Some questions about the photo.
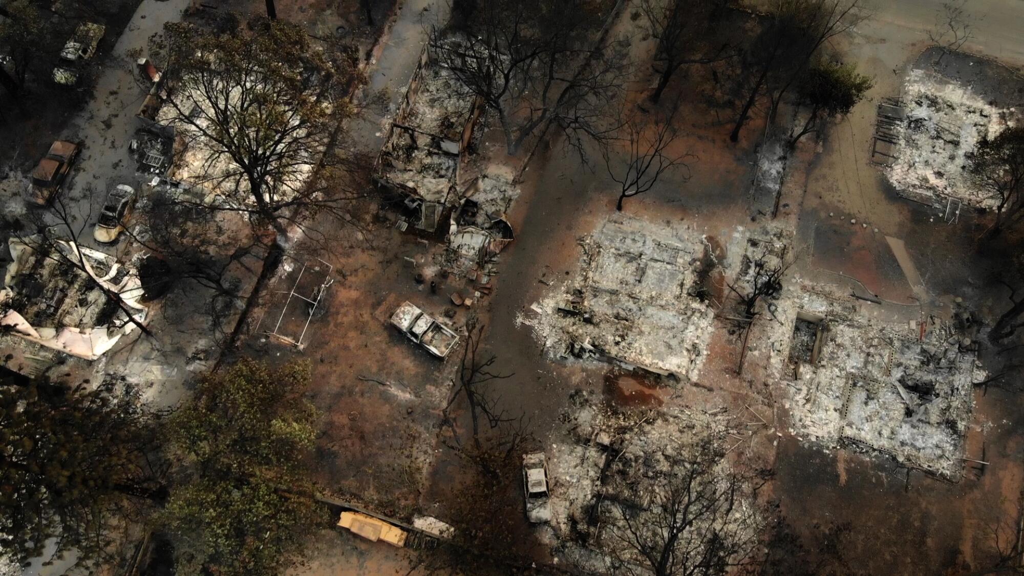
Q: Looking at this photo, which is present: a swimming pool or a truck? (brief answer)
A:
truck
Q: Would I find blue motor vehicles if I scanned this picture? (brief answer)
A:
No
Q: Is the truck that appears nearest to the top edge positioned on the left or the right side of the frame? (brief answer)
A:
left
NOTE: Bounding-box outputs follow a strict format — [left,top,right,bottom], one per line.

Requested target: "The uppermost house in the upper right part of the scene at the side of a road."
[868,62,1024,207]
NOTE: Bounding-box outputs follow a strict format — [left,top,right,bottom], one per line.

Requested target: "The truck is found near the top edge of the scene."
[67,23,107,62]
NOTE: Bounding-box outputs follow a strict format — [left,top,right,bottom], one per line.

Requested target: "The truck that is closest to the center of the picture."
[392,304,459,358]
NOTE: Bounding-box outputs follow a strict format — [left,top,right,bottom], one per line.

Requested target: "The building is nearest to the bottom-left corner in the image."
[0,223,148,361]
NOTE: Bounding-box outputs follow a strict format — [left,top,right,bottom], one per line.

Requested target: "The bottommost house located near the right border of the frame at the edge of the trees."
[756,270,997,493]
